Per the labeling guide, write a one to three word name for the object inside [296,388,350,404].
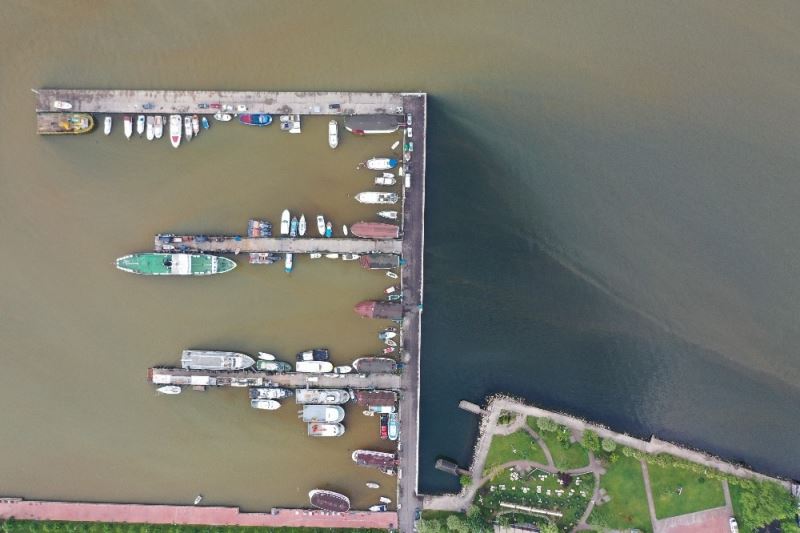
ship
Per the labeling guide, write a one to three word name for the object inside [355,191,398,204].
boat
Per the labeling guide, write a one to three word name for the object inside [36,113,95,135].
ship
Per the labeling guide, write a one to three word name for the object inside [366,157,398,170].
boat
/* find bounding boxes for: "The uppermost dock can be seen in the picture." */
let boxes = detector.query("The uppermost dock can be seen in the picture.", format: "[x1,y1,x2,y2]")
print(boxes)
[36,90,404,116]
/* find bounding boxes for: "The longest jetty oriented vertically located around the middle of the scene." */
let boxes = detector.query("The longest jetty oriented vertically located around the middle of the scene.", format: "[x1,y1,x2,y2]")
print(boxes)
[398,93,427,497]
